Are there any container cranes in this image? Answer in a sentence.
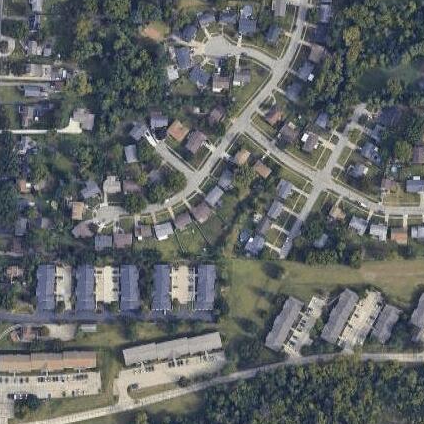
No, I find no container crane anywhere in the image.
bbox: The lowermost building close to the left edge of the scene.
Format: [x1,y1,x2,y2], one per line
[0,351,96,376]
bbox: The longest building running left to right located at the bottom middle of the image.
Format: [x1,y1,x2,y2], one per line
[123,332,223,369]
